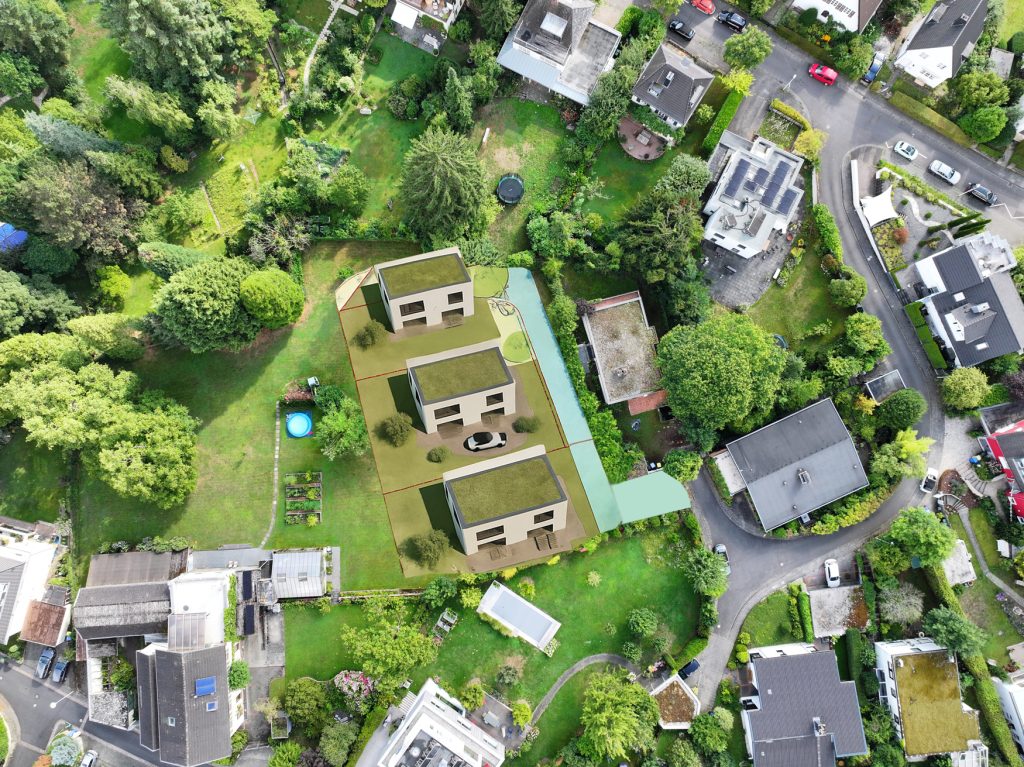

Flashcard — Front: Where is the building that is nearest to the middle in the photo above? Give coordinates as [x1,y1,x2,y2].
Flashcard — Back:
[406,338,515,433]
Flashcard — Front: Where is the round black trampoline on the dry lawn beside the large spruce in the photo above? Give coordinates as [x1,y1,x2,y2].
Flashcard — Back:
[498,174,524,200]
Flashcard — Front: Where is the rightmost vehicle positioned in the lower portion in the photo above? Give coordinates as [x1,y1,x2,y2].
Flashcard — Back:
[919,467,939,493]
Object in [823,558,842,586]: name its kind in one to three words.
car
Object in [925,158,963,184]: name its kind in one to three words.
car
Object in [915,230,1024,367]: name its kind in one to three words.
house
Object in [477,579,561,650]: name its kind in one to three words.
building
